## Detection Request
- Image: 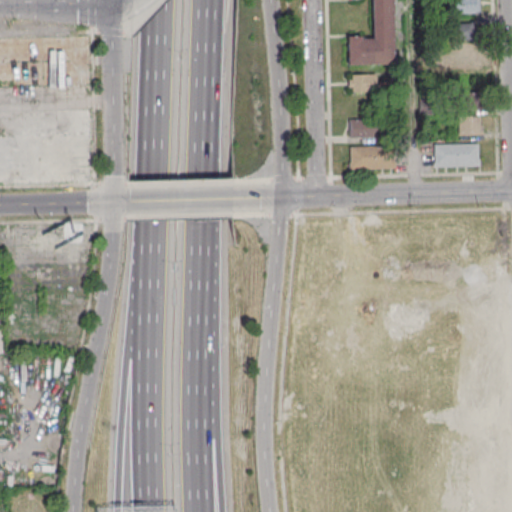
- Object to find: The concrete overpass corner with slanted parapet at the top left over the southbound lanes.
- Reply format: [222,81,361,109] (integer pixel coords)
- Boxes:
[124,0,170,37]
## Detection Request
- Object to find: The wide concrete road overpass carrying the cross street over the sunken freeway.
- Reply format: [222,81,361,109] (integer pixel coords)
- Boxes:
[126,178,234,220]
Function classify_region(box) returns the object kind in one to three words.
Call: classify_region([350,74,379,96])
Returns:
house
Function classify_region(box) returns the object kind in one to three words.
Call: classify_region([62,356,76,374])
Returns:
vehicle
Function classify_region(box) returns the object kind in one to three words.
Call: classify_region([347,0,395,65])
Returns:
building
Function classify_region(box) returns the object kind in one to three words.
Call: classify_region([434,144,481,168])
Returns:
building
